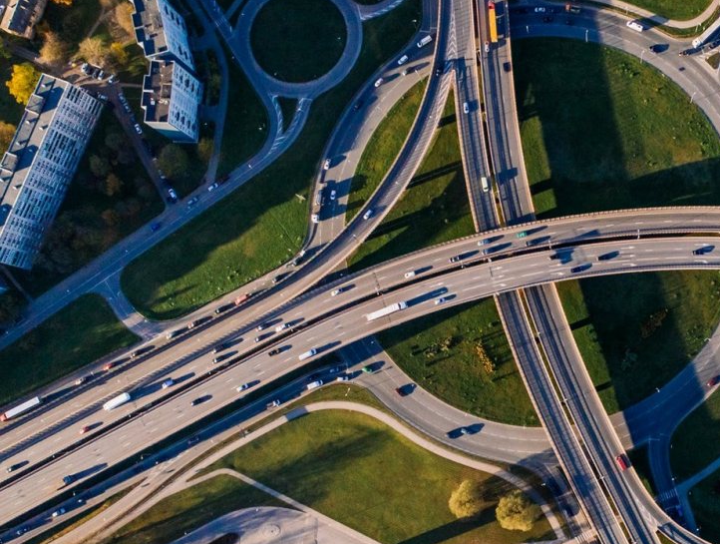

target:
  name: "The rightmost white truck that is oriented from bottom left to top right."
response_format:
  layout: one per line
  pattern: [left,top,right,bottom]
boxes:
[693,16,720,46]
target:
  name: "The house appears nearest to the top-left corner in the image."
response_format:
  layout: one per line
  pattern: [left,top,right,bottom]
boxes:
[0,0,56,42]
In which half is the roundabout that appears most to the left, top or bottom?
top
